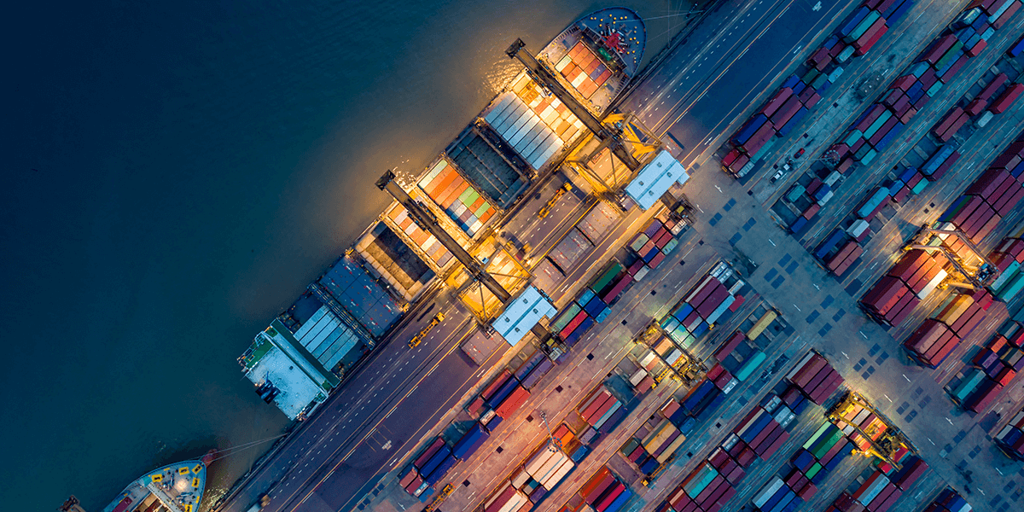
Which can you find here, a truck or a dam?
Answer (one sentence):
The image shows a truck.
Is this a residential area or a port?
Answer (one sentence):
What you see here is a port.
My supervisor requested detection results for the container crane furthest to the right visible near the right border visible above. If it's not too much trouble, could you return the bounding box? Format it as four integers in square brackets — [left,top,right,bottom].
[907,223,1001,290]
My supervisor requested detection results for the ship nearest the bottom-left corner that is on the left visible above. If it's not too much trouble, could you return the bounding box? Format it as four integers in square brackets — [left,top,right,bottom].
[98,448,218,512]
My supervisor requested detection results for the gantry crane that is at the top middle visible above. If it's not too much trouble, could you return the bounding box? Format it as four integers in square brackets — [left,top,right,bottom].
[505,33,701,226]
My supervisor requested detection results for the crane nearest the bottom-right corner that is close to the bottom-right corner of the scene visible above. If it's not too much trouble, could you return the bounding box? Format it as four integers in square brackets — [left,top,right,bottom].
[828,392,917,471]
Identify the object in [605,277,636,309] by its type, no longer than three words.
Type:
shipping container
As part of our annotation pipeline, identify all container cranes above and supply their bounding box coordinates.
[828,392,917,471]
[907,223,1001,290]
[373,169,569,361]
[633,315,711,388]
[505,33,701,226]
